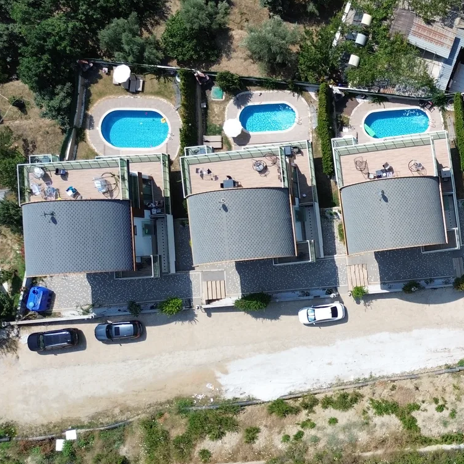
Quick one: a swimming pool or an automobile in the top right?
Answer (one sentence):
Visible in the top right is a swimming pool.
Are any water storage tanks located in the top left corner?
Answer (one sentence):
No, in the top left corner there is no water storage tank.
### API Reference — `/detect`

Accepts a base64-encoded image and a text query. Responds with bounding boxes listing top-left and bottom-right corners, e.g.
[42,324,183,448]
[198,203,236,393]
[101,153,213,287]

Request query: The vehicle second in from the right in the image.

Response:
[96,320,146,343]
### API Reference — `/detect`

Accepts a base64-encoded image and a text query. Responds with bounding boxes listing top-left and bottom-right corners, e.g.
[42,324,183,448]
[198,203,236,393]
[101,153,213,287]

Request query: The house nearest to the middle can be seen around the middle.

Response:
[179,140,328,270]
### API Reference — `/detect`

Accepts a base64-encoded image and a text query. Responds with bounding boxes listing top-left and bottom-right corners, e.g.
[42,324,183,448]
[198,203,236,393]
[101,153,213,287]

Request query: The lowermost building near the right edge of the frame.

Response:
[332,130,464,258]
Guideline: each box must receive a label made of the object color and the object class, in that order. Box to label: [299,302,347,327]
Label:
white car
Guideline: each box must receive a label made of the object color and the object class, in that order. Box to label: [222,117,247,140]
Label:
white umbrella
